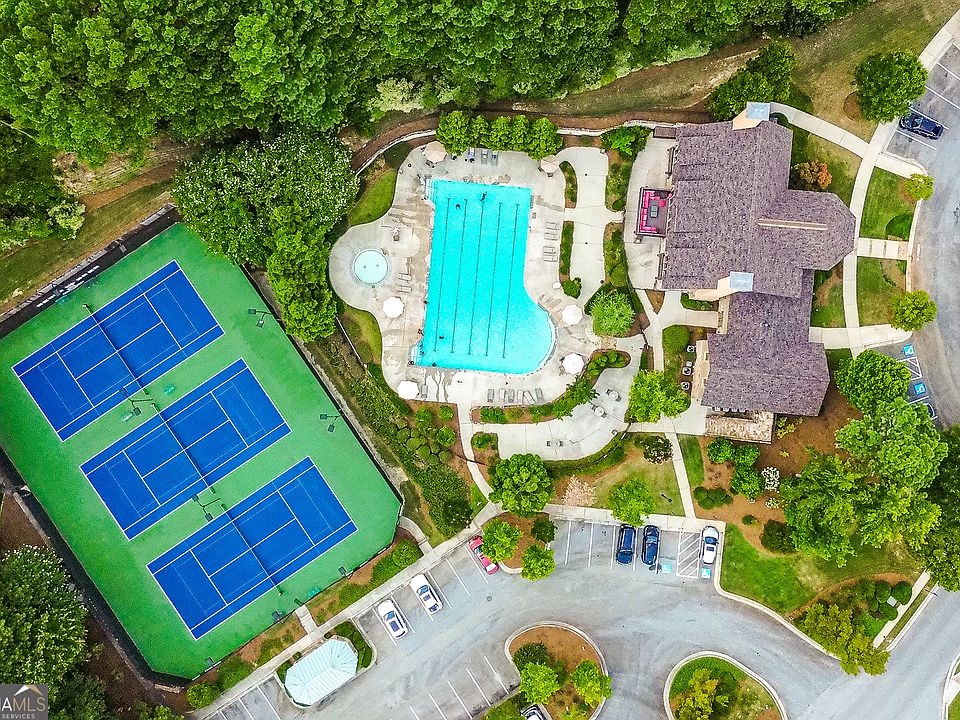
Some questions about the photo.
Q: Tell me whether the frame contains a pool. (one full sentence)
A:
Yes, there's a pool here.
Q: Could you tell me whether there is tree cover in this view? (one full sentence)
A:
Yes, the picture does contain tree cover.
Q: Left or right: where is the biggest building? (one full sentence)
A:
The biggest building sits on the right side.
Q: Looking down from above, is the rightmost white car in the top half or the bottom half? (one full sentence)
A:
The rightmost white car is in the bottom half of the image.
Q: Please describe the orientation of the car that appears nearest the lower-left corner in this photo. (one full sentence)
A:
Seen from above, the car that appears nearest the lower-left corner lies diagonally.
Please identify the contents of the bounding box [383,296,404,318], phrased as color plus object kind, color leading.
white umbrella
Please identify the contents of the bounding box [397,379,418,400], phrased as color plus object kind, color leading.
white umbrella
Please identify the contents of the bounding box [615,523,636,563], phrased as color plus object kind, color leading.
blue car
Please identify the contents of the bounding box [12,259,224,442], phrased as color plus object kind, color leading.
blue tennis court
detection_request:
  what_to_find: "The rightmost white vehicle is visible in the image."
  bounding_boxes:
[697,525,720,564]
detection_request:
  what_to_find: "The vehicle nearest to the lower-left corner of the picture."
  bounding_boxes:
[375,600,409,640]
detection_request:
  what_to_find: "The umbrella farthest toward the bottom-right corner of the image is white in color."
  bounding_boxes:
[562,353,583,373]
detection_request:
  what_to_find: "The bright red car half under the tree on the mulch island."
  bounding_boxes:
[466,533,502,577]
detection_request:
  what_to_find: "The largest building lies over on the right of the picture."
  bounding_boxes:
[651,102,857,417]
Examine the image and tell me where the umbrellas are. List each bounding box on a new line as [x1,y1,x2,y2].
[562,353,583,373]
[397,379,418,400]
[383,296,404,318]
[562,305,582,325]
[424,142,444,163]
[540,157,559,174]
